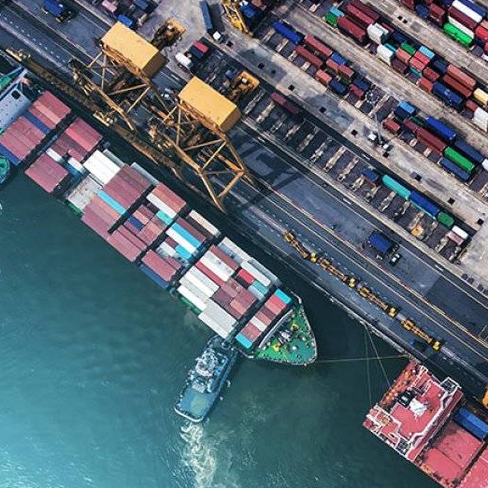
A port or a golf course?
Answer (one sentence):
What you see here is a port.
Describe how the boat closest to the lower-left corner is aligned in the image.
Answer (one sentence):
The boat closest to the lower-left corner runs on a diagonal in the image.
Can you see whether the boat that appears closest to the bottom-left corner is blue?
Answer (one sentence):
Yes, the boat that appears closest to the bottom-left corner is blue.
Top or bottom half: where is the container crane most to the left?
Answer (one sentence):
The top half of the photo is where the container crane most to the left is.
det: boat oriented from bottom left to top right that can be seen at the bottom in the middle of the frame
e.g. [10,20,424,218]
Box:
[168,339,238,425]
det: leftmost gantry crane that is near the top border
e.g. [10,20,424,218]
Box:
[21,16,184,164]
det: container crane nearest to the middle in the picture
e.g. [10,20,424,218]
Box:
[111,71,260,217]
